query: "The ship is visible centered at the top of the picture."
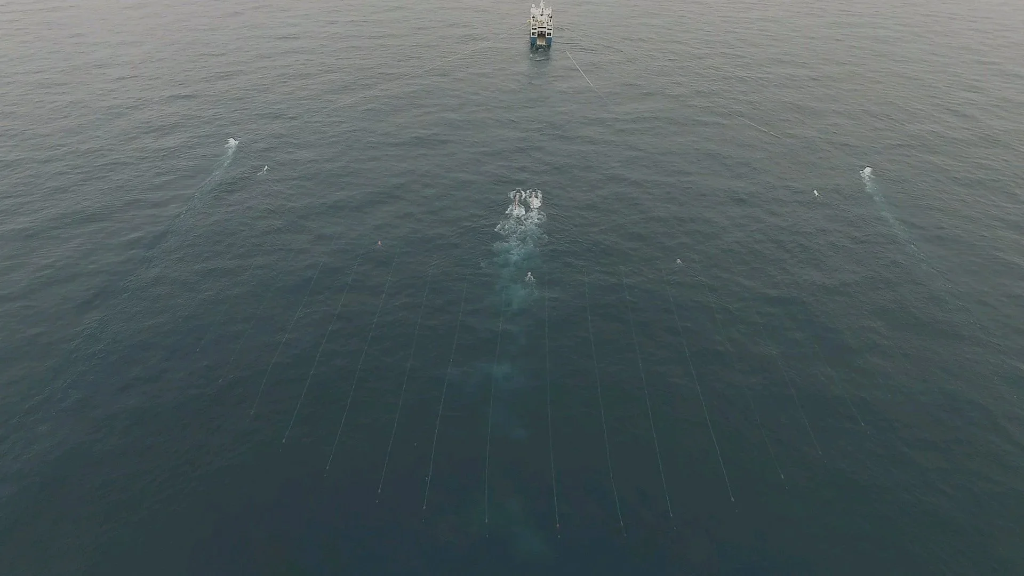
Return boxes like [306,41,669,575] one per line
[527,0,554,45]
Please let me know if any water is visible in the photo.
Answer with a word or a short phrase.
Yes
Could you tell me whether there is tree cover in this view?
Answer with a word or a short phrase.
No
